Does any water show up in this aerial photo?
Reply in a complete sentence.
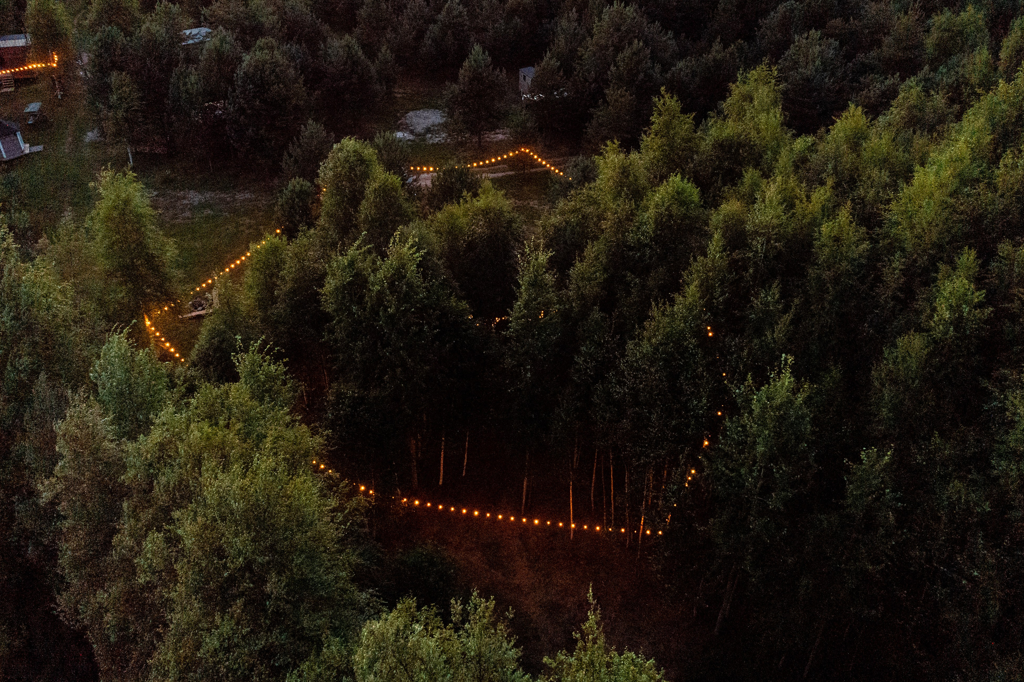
No, no water is visible.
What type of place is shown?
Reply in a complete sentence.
This looks like a forest.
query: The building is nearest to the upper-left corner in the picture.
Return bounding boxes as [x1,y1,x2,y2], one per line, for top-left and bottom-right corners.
[0,36,54,86]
